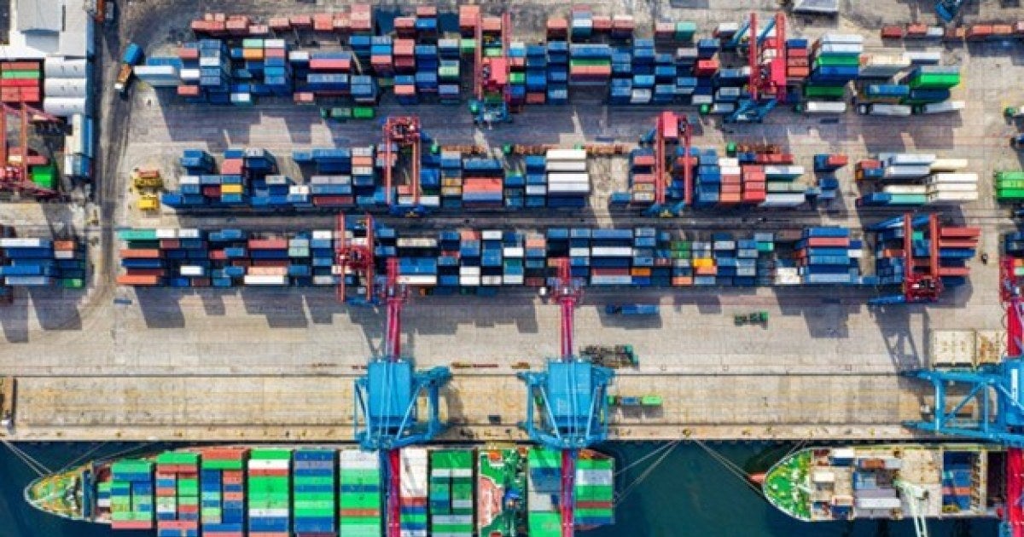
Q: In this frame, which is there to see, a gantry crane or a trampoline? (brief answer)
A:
gantry crane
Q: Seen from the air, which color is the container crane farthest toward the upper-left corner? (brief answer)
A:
red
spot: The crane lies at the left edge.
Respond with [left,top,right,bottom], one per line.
[0,93,68,199]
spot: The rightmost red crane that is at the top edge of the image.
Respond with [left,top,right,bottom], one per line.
[726,12,785,125]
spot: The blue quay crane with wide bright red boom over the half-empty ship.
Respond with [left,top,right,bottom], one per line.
[889,255,1024,537]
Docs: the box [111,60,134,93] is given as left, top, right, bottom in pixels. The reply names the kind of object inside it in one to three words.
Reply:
truck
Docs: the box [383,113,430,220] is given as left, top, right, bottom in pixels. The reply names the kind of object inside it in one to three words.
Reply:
container crane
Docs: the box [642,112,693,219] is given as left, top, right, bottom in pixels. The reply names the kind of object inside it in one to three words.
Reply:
container crane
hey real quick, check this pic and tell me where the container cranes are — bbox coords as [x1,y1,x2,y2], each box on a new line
[473,11,514,124]
[336,205,387,303]
[869,208,941,320]
[642,112,693,219]
[0,93,68,199]
[889,255,1024,537]
[354,258,452,537]
[726,12,785,125]
[383,113,430,220]
[518,258,607,537]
